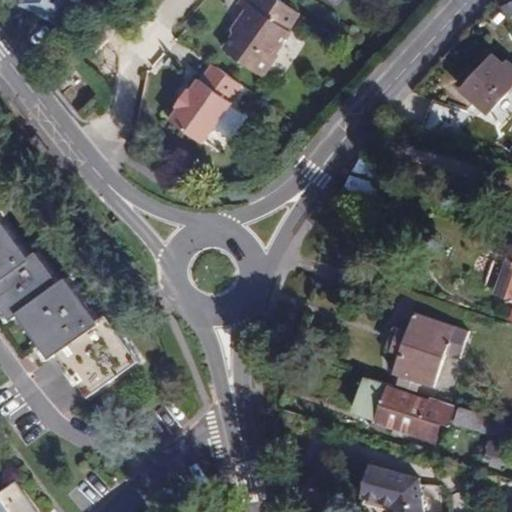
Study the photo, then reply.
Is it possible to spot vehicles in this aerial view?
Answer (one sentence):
Yes, I can see a vehicle in this picture.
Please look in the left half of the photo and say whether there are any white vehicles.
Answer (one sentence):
Yes, you'll find a white vehicle in the left half of the photo.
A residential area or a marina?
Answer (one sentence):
What you see here is a residential area.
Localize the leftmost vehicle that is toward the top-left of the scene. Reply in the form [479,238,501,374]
[29,28,48,46]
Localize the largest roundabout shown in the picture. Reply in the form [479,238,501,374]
[137,192,303,392]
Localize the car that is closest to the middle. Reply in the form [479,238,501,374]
[226,238,244,260]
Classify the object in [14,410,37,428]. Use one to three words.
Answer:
car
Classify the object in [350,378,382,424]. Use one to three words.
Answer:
building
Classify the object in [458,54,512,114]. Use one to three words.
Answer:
house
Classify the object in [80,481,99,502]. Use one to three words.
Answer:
car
